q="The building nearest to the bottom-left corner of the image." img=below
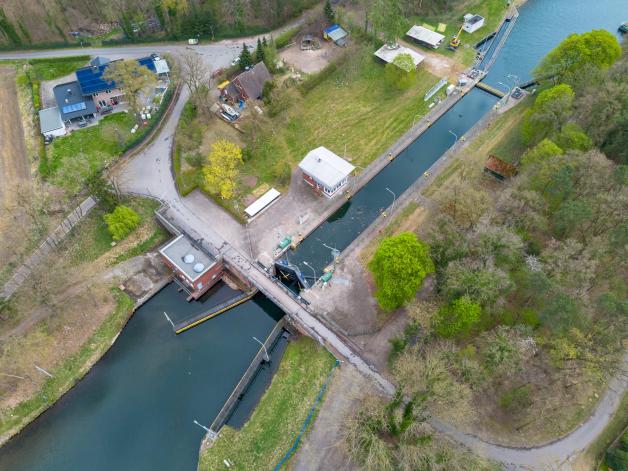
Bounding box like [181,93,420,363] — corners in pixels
[159,234,223,302]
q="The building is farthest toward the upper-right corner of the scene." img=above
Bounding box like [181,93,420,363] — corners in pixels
[448,15,484,37]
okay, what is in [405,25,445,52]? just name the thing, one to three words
shed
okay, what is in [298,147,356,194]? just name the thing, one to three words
building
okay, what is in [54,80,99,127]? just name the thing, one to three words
building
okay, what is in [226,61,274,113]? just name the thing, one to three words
house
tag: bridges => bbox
[221,248,314,335]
